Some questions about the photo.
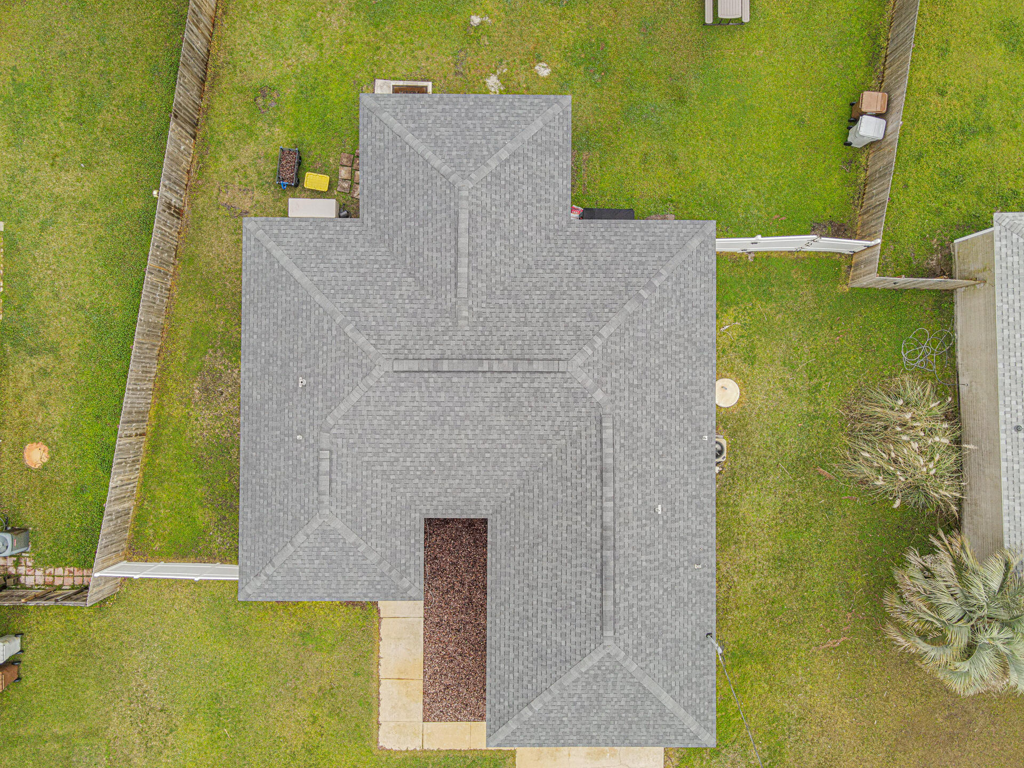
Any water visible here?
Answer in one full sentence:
No, the picture contains no water.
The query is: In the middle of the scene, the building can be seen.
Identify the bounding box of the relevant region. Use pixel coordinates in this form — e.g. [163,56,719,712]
[238,94,716,747]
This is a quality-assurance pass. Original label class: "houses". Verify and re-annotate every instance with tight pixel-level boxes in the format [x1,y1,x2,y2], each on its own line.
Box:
[952,213,1024,583]
[238,94,716,747]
